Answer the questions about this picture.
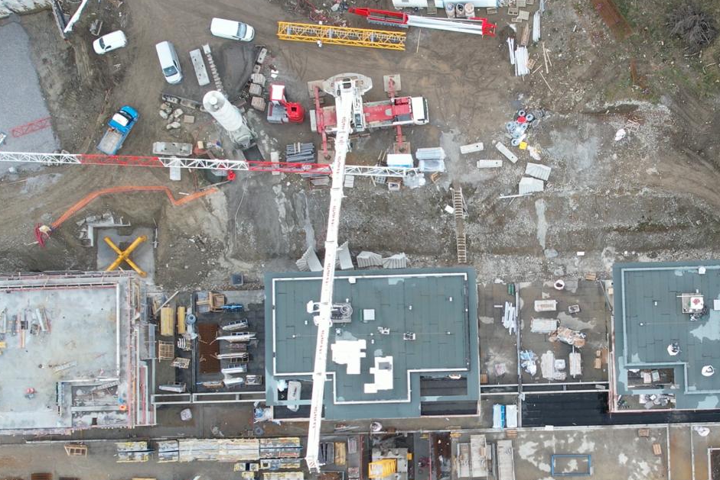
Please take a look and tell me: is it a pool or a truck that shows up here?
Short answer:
truck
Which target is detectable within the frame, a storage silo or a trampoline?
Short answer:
storage silo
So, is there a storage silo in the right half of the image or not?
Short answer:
No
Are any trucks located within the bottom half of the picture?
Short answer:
No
